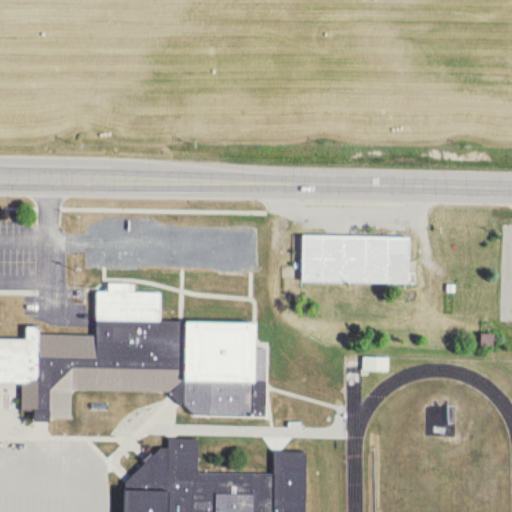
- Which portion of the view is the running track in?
bottom right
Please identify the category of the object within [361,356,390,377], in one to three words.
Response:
shed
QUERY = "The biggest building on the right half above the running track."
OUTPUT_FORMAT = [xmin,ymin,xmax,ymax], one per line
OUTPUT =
[302,234,412,285]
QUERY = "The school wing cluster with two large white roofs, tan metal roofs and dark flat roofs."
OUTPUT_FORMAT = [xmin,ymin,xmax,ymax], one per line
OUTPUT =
[0,284,266,422]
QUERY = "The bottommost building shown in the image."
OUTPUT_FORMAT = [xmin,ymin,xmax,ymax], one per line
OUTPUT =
[124,438,306,512]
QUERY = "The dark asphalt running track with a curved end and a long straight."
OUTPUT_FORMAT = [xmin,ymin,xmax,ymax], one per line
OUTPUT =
[347,363,512,512]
